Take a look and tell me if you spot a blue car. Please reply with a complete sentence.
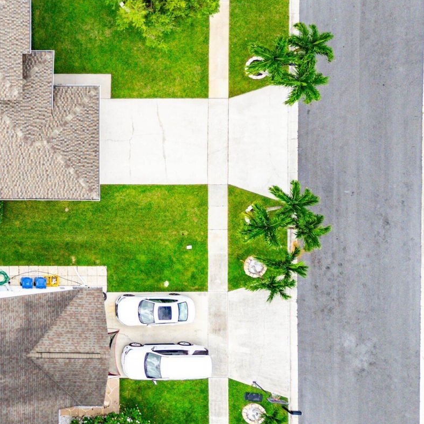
No, I find no blue car anywhere in the image.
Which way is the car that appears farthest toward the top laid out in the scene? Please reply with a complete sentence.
In this picture, the car that appears farthest toward the top lies from side to side.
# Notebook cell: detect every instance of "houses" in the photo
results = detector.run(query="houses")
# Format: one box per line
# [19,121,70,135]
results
[0,0,102,203]
[0,283,110,424]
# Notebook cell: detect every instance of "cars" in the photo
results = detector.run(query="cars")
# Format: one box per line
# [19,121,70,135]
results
[112,289,196,329]
[119,339,211,383]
